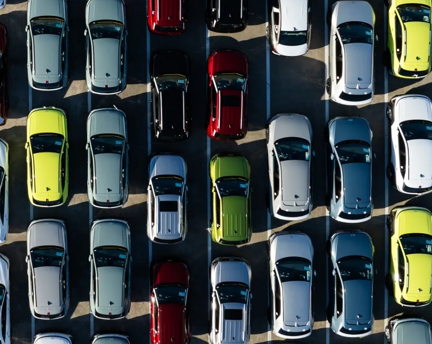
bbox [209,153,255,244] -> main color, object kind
green car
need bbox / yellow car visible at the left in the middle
[26,108,70,206]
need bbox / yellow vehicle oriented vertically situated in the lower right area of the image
[386,207,432,306]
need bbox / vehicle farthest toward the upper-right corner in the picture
[384,0,432,78]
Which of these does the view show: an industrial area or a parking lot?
parking lot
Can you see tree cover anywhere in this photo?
No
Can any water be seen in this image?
No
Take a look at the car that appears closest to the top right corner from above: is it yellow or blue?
yellow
